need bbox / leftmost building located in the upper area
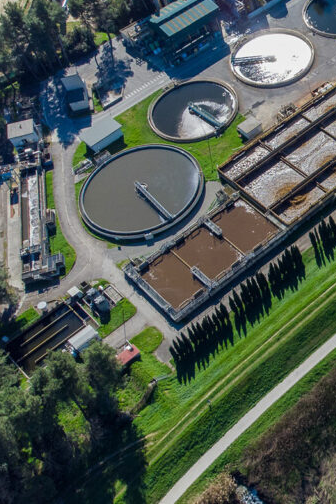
[7,119,38,147]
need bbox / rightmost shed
[237,116,263,140]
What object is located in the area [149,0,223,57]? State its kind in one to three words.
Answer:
building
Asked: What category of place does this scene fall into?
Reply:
industrial area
